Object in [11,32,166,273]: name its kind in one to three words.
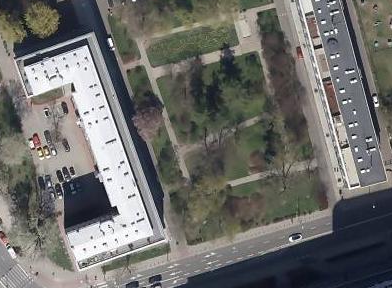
building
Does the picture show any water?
No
